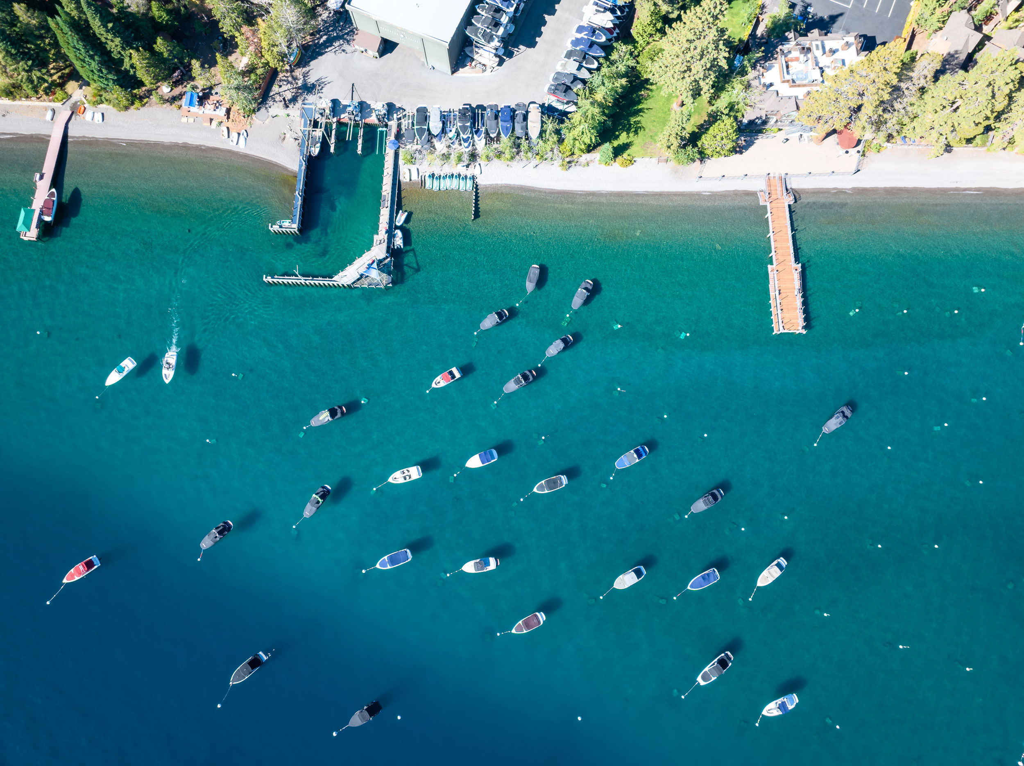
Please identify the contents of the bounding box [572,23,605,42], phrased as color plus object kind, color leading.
blue boat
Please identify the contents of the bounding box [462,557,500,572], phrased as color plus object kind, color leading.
white boat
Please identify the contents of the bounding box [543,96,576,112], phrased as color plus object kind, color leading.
white boat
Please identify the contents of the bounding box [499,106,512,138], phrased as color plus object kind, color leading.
blue boat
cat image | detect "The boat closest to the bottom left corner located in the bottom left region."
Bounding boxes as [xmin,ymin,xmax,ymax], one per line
[63,556,102,583]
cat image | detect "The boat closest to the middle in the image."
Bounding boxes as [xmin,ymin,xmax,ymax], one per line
[504,371,535,395]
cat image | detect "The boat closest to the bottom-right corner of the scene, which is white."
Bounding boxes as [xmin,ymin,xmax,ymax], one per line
[762,694,797,715]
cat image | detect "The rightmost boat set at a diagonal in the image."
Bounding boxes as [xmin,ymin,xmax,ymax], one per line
[823,406,851,434]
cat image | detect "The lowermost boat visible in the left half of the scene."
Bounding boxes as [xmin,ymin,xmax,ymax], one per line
[349,699,383,726]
